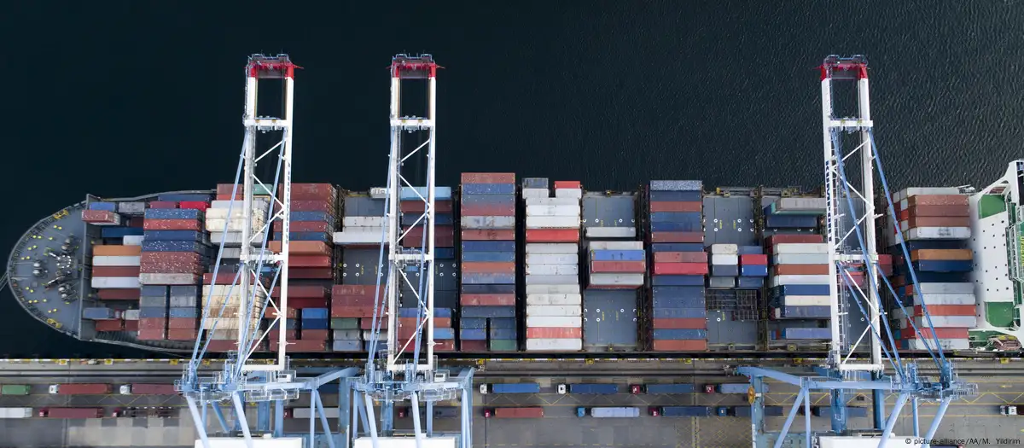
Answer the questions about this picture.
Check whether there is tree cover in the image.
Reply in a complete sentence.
No, tree cover can't be seen anywhere here.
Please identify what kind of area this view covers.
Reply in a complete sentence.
It's a port.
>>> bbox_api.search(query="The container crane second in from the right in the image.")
[343,52,495,448]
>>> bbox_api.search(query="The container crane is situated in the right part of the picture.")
[715,51,968,448]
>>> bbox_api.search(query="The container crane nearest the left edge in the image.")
[168,51,378,448]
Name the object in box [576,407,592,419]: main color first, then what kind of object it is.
blue vehicle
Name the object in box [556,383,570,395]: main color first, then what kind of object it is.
white vehicle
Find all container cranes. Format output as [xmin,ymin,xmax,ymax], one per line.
[168,51,378,448]
[715,51,968,448]
[343,52,495,448]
